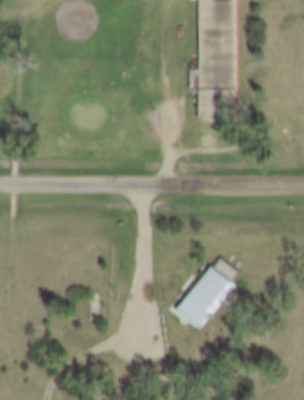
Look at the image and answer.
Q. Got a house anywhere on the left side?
No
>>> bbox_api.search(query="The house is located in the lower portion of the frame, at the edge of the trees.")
[176,258,238,326]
